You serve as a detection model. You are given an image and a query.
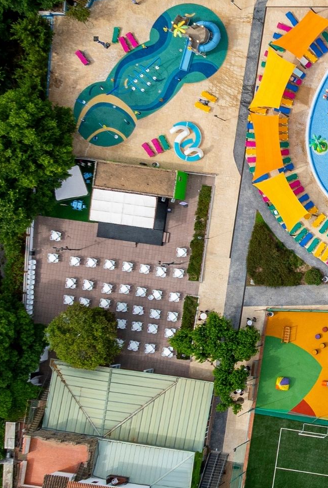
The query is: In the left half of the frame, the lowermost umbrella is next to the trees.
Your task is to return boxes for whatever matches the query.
[57,165,89,201]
